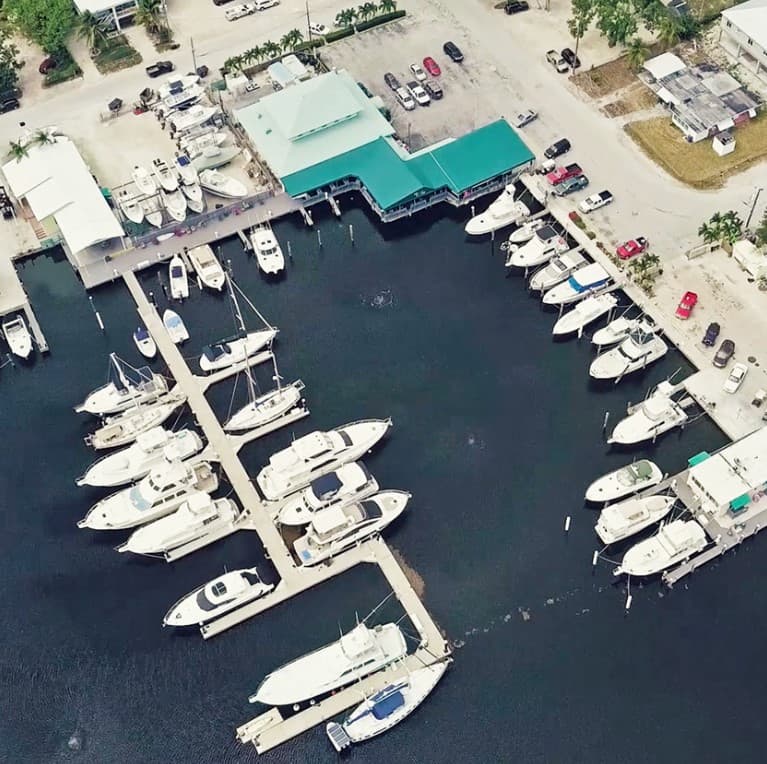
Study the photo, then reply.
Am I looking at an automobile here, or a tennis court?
automobile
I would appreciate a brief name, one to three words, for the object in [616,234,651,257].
truck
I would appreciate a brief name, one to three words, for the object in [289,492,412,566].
boat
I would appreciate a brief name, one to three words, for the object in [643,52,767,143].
house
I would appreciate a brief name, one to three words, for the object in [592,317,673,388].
boat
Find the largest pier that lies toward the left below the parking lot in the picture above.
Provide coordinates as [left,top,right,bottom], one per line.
[124,274,454,757]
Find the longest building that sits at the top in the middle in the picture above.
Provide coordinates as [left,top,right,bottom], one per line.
[233,69,535,228]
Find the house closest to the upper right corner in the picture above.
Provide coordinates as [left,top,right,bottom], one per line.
[715,1,767,88]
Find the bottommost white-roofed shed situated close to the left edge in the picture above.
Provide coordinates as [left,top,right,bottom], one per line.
[1,141,125,275]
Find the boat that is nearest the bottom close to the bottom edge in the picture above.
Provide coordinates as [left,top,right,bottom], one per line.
[327,723,356,759]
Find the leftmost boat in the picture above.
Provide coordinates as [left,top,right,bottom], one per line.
[1,317,29,360]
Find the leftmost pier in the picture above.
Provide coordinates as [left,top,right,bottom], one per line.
[22,303,49,358]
